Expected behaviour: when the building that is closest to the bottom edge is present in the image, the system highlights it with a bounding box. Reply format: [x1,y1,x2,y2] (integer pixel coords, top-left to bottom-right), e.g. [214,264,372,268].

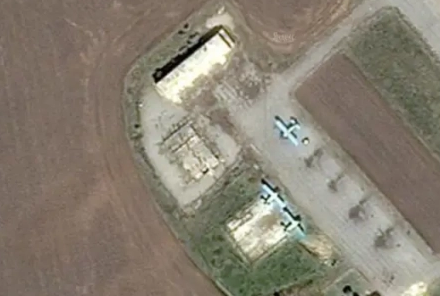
[150,111,233,186]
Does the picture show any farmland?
Yes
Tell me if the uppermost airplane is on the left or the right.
right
